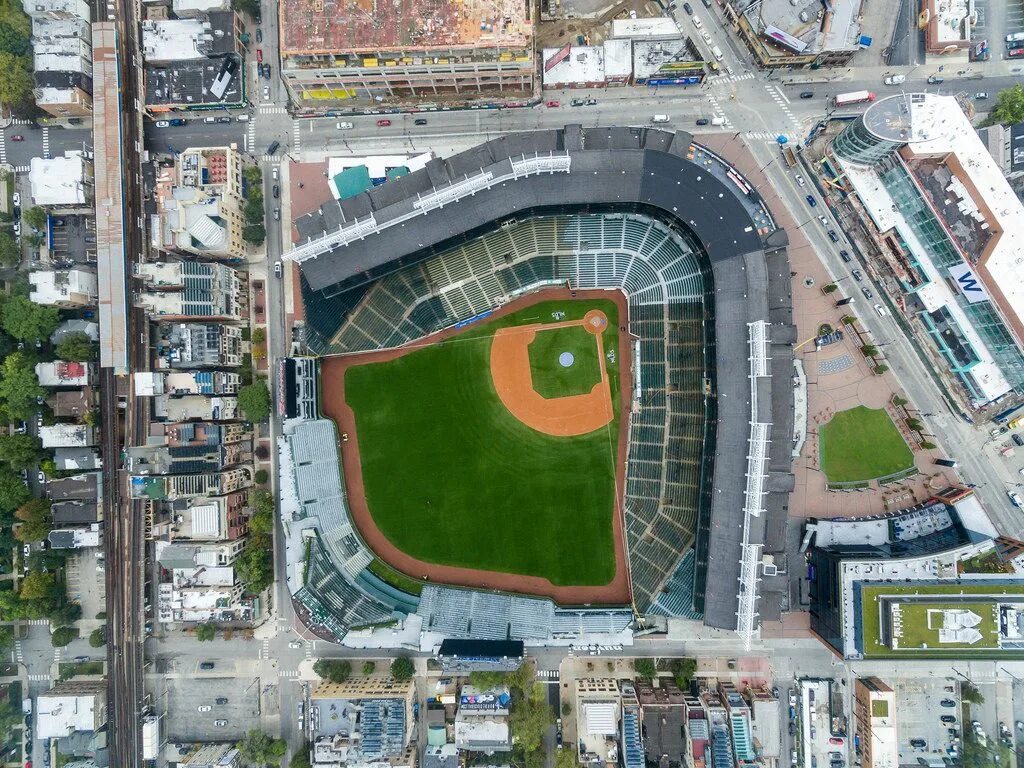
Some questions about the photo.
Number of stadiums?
1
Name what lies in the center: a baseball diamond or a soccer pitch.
baseball diamond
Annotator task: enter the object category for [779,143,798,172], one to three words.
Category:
vehicle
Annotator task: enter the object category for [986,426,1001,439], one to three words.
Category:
vehicle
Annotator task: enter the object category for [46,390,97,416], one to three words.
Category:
house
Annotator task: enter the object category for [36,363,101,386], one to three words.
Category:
building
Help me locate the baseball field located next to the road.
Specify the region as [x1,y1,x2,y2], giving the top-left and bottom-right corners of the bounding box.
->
[320,282,637,603]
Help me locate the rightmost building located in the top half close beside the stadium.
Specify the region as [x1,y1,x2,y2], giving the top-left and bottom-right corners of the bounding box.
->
[818,90,1024,400]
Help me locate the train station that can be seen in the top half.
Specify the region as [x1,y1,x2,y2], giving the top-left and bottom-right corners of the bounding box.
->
[92,22,129,378]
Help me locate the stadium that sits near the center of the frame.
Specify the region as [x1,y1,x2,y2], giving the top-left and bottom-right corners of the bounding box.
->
[277,125,807,672]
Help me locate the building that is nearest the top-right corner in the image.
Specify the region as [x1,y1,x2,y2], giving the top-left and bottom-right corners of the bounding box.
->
[919,0,980,57]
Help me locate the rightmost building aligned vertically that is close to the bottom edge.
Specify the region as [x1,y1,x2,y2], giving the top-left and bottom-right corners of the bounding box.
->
[853,677,898,768]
